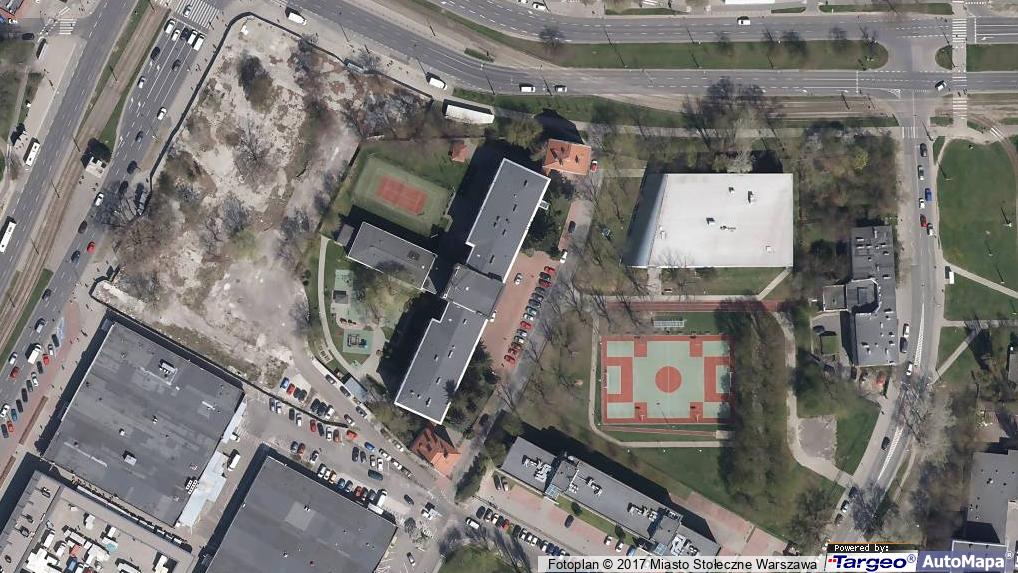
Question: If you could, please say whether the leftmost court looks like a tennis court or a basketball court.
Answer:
tennis court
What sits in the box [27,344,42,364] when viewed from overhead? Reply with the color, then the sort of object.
white vehicle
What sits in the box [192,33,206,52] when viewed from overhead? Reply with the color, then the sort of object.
white vehicle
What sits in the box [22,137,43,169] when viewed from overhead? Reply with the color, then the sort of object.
white bus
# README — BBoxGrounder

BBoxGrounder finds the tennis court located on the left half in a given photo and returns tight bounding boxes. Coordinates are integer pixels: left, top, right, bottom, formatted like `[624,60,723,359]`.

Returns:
[354,154,450,234]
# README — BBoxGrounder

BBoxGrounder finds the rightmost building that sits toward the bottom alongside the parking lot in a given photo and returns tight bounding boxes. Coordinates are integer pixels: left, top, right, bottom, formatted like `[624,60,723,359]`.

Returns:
[500,436,721,572]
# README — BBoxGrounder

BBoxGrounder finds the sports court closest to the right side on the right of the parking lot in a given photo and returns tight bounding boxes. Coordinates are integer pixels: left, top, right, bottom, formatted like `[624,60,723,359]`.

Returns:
[601,336,736,423]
